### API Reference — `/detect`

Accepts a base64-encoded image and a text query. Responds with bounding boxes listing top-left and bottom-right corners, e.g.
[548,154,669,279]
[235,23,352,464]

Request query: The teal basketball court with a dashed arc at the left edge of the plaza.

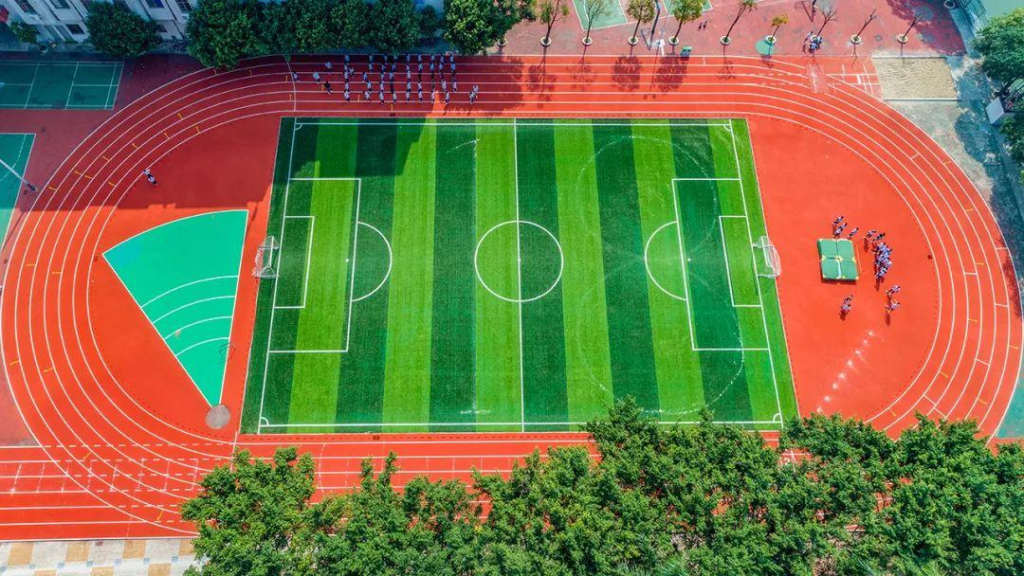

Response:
[0,133,36,256]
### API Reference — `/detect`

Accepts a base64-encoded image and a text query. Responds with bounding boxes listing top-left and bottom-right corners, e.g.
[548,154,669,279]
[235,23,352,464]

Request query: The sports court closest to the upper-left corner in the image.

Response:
[0,61,125,109]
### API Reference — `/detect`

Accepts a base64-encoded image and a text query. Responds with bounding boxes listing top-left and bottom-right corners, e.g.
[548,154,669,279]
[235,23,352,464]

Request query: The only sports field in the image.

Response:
[239,116,800,435]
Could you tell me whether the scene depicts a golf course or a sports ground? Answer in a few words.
sports ground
